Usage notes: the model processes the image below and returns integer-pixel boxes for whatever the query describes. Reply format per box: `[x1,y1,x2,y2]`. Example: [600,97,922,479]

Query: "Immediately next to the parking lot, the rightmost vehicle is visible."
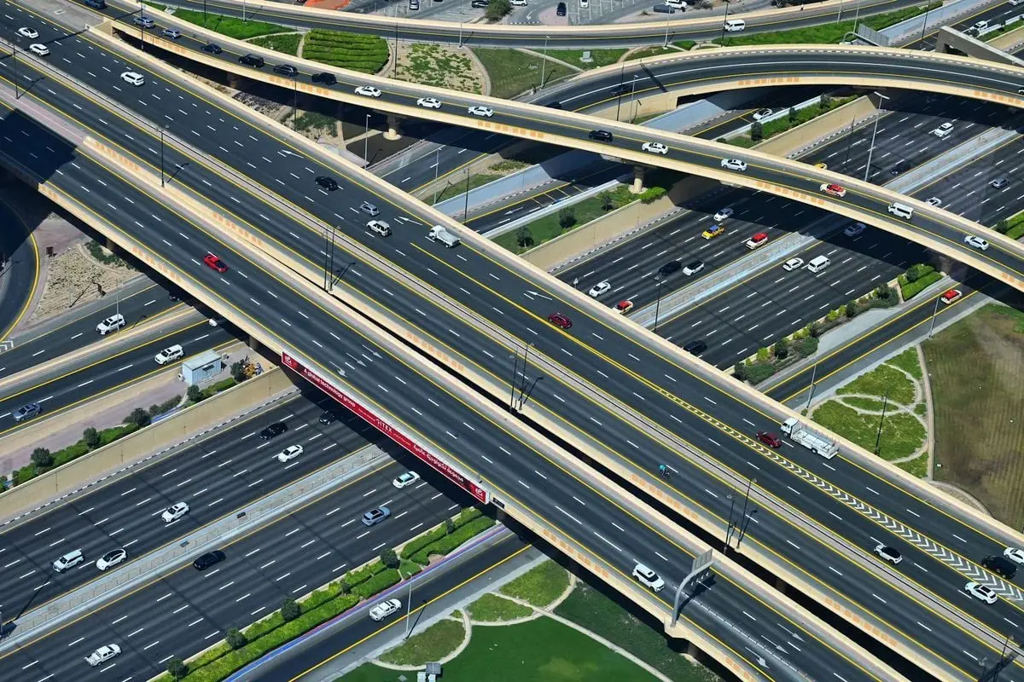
[725,19,745,31]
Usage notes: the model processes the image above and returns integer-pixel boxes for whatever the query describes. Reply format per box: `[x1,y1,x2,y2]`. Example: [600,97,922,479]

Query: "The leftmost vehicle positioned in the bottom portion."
[12,402,42,421]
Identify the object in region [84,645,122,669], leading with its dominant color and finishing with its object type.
white truck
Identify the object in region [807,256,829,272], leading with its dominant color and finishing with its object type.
white vehicle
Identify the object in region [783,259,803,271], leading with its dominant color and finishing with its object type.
white vehicle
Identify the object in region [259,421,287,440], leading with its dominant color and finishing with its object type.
black car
